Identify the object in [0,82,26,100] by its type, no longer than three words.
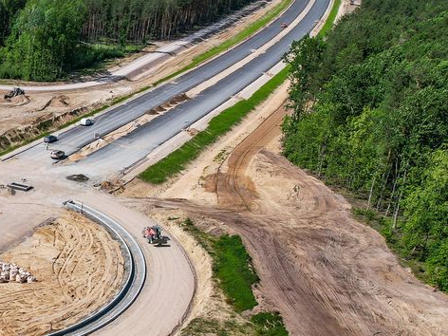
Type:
work vehicle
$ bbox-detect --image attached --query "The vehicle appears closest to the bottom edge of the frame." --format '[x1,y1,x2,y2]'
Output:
[139,222,166,245]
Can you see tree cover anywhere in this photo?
Yes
